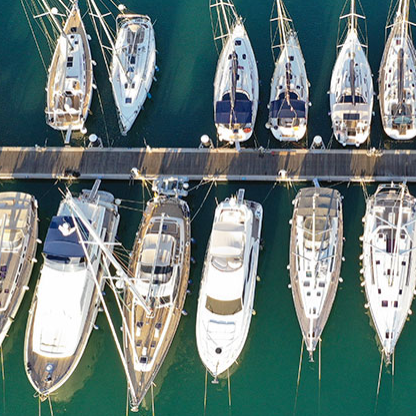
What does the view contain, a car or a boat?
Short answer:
boat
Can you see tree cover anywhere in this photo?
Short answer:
No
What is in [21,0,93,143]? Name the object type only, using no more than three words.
boat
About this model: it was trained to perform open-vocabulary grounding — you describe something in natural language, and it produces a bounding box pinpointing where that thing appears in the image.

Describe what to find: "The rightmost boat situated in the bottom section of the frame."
[362,182,416,366]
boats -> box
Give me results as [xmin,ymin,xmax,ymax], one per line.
[0,188,34,352]
[21,0,93,143]
[193,190,263,385]
[362,182,416,366]
[288,182,341,360]
[149,174,196,194]
[264,0,310,141]
[379,0,416,140]
[329,0,373,150]
[12,183,128,409]
[208,0,258,147]
[62,190,188,416]
[81,0,152,135]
